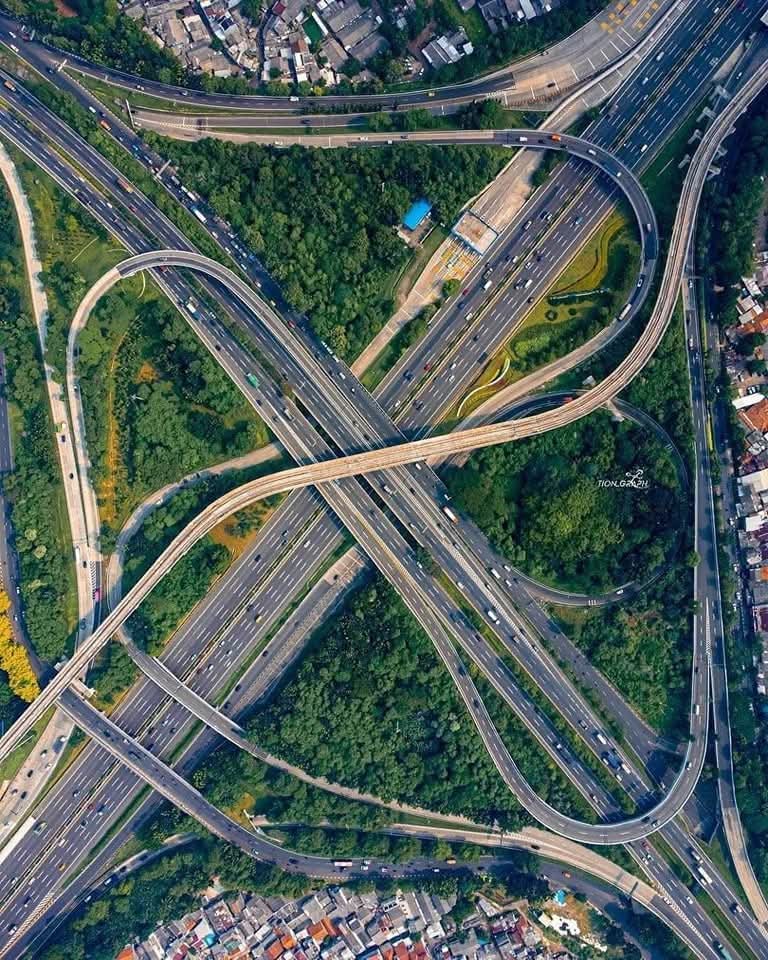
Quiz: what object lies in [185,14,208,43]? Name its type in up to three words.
house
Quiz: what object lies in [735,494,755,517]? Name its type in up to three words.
house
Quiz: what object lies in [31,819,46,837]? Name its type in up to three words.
vehicle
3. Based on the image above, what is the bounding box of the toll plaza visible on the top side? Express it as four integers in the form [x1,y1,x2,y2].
[442,201,505,270]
